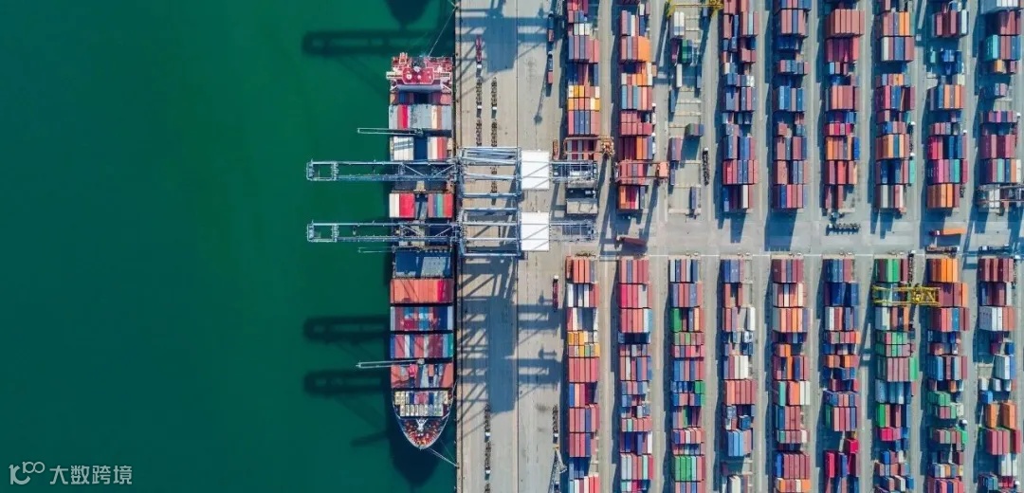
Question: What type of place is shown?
port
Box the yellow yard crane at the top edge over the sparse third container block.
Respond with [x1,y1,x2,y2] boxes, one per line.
[661,0,723,24]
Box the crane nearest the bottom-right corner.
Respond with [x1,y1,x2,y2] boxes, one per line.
[870,281,943,308]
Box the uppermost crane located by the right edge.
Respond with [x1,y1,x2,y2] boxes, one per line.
[972,183,1024,209]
